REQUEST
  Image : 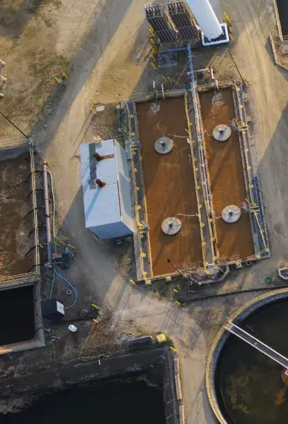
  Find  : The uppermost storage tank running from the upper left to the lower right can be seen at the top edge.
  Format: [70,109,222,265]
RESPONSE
[184,0,230,46]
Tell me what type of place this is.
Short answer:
industrial area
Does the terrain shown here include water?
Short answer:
Yes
